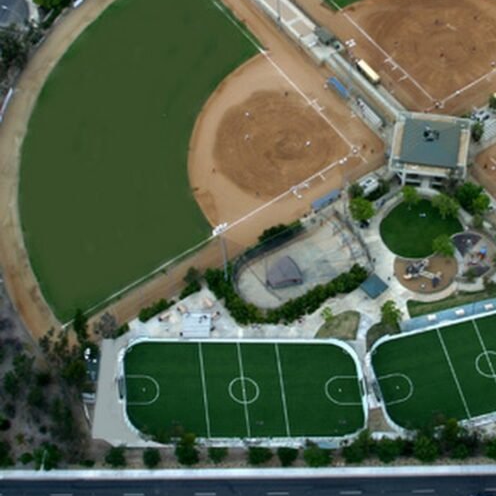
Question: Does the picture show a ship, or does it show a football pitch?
football pitch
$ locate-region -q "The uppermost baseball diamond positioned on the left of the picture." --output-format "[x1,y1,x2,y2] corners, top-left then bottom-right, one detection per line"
[20,0,368,330]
